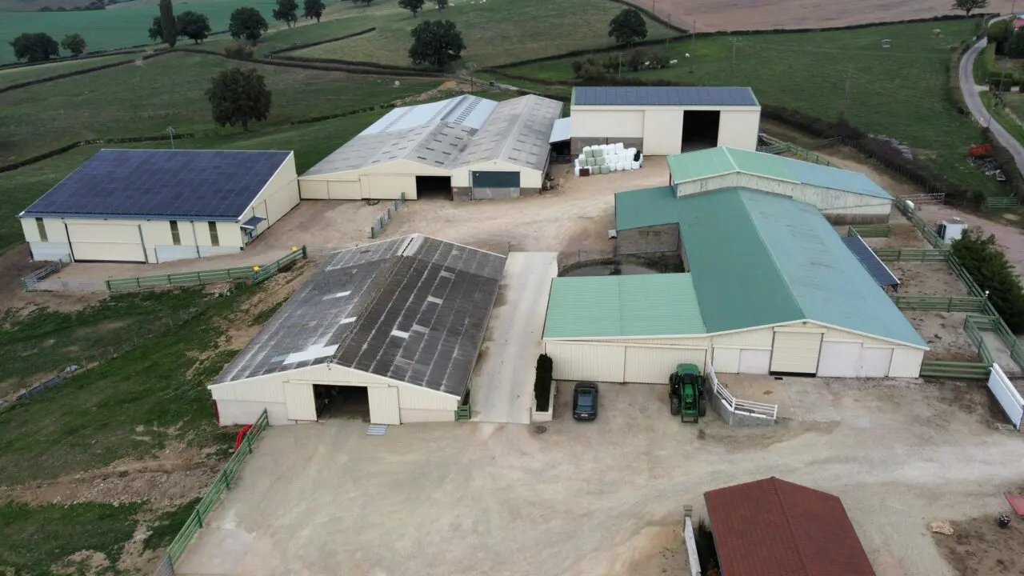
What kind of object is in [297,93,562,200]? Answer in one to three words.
barn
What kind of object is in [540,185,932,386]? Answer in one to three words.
barn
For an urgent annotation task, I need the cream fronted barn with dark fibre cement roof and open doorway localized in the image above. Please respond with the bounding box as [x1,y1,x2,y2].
[207,232,506,427]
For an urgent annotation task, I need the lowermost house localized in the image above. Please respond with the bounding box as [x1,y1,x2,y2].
[701,473,876,576]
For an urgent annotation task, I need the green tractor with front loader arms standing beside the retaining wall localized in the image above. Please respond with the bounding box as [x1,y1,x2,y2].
[669,357,709,424]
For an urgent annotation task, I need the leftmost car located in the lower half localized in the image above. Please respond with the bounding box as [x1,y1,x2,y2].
[568,382,597,419]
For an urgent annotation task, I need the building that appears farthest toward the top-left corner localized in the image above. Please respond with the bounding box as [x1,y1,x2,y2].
[18,148,299,263]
